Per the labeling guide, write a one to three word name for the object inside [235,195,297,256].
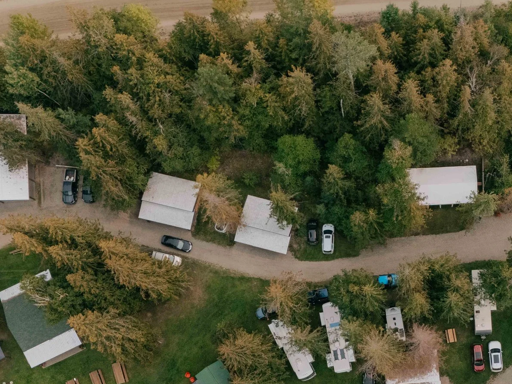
building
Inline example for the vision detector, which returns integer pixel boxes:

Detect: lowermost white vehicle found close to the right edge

[489,341,504,372]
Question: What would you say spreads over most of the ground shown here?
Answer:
trees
